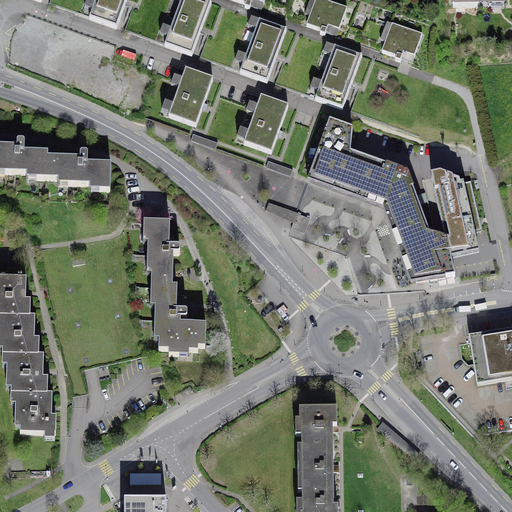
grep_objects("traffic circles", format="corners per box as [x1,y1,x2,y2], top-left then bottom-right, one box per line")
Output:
[292,302,382,378]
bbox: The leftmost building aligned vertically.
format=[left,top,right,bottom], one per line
[0,274,58,444]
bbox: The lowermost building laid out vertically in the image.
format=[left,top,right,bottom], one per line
[295,404,339,512]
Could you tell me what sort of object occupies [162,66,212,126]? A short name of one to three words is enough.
house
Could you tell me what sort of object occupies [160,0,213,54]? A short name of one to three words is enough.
house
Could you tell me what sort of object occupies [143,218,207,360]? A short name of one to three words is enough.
building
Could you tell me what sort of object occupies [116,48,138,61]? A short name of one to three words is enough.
vehicle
